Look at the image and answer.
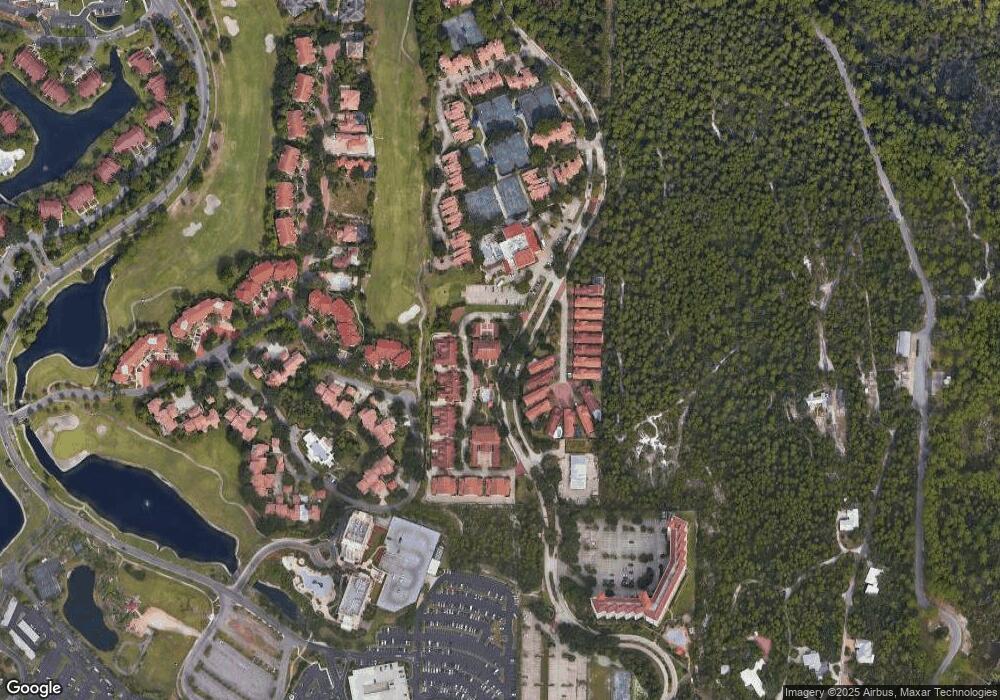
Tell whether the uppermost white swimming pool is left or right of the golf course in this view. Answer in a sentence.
To the left of the golf course is where the uppermost white swimming pool appears.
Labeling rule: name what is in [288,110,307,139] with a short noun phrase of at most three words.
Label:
house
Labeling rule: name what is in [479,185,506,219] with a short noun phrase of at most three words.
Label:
tennis court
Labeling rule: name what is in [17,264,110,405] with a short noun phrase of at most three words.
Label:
pond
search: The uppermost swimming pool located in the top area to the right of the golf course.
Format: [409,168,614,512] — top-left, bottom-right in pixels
[480,230,506,267]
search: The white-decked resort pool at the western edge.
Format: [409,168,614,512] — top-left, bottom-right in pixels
[0,148,24,176]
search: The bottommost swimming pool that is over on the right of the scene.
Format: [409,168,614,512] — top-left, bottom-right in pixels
[663,625,690,646]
